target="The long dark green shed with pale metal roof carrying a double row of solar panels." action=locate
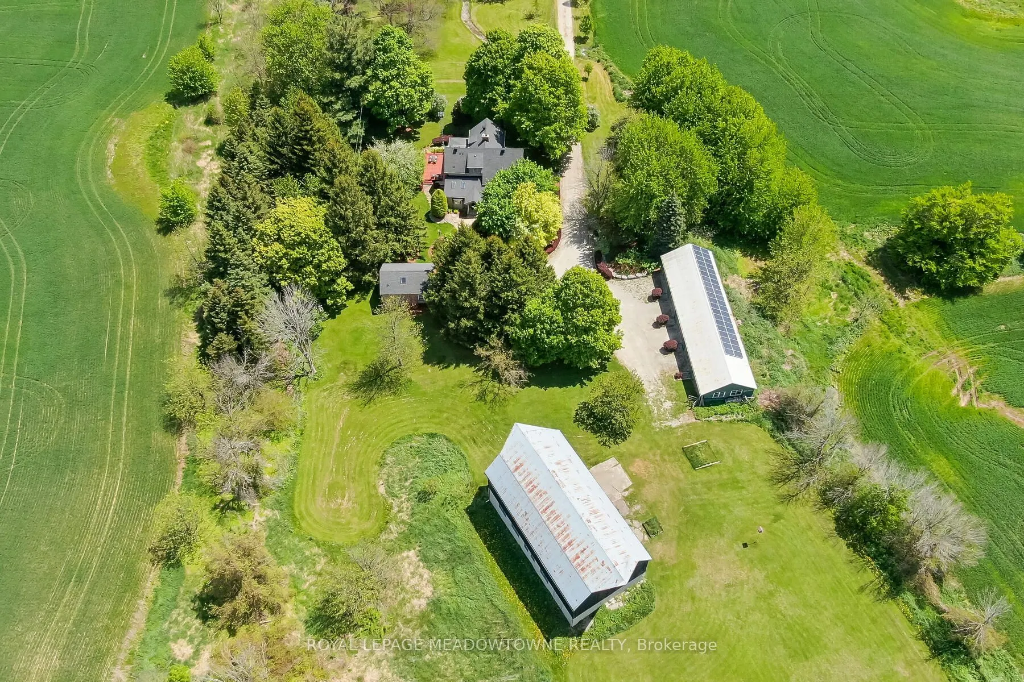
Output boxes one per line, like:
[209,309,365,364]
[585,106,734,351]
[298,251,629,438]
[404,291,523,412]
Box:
[660,243,758,406]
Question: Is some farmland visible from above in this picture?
Yes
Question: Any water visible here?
No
